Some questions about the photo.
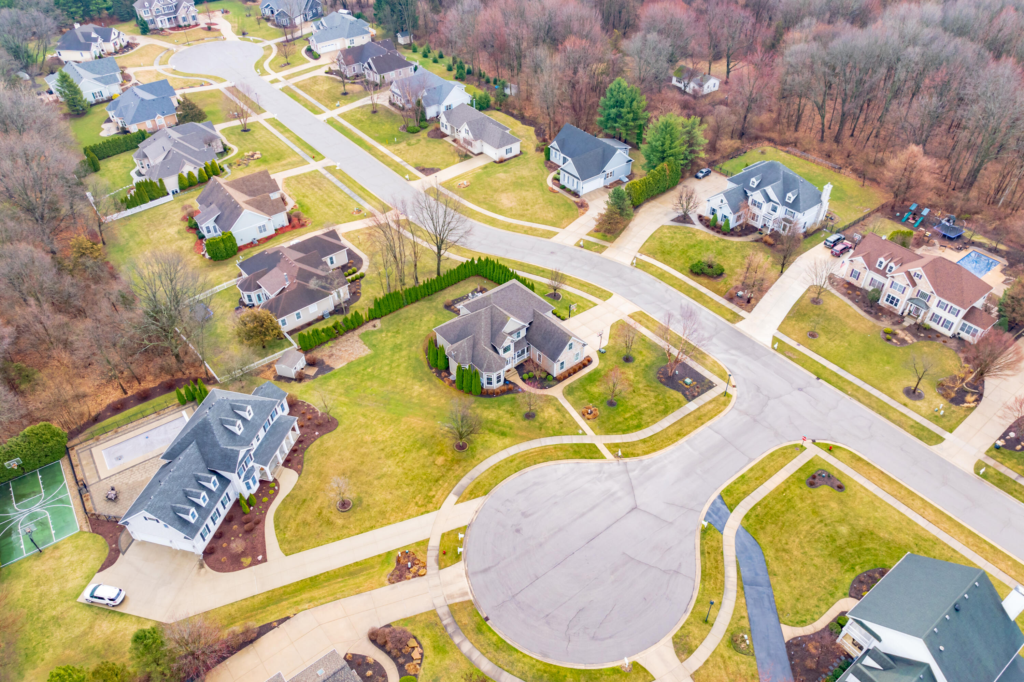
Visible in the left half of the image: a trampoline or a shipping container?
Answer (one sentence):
The feature located in the left half of the image is a trampoline.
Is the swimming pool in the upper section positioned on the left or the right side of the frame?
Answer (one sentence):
It is on the right.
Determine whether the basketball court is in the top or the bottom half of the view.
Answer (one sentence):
It is in the bottom half that the basketball court appears.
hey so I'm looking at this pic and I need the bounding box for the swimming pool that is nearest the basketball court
[101,416,186,469]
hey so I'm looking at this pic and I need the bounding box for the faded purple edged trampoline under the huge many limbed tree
[188,304,216,325]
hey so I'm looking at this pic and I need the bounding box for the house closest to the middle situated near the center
[432,278,589,386]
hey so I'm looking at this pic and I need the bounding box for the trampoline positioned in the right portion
[932,215,968,242]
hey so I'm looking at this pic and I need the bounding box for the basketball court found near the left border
[0,465,81,568]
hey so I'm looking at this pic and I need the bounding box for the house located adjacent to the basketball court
[116,378,301,554]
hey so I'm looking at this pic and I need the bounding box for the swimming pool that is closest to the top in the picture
[957,250,1001,278]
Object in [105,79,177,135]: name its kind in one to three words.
house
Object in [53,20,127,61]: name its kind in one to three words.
house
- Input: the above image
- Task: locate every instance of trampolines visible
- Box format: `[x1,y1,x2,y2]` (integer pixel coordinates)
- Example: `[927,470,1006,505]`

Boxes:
[188,304,216,325]
[932,215,968,242]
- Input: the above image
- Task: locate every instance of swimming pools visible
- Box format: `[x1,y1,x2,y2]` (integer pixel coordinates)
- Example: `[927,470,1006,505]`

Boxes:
[101,416,186,469]
[957,250,1001,278]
